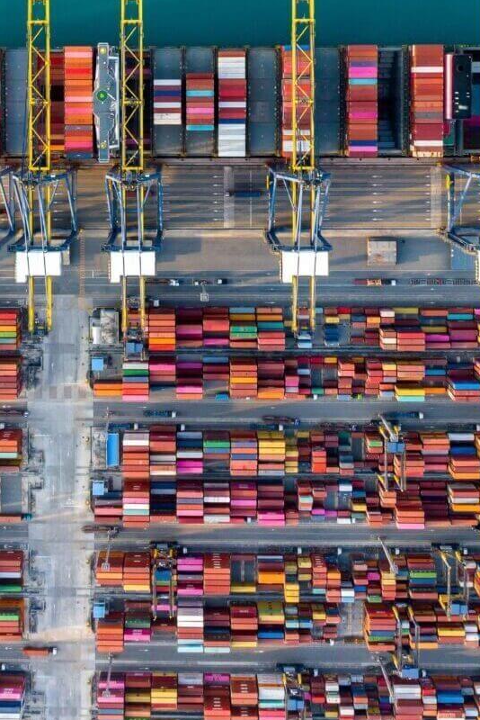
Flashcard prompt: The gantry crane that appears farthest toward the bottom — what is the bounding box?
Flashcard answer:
[277,659,305,720]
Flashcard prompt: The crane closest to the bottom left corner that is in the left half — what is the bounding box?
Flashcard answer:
[152,539,177,620]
